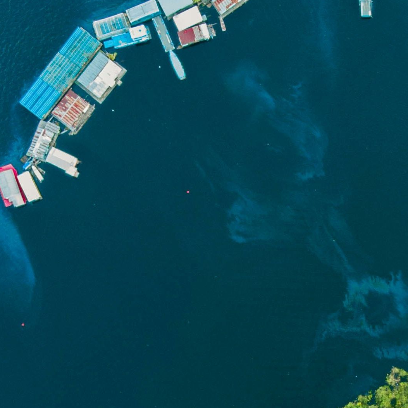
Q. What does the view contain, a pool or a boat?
boat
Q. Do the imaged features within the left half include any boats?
Yes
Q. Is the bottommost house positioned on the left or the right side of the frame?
left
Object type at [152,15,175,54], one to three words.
pier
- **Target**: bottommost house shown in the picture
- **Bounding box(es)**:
[46,147,83,176]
